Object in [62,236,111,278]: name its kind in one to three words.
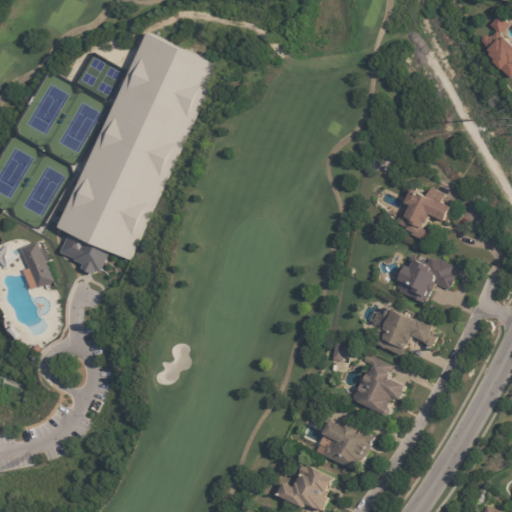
building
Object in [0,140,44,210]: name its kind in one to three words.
tennis court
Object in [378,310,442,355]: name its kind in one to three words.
house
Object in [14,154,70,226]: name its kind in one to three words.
tennis court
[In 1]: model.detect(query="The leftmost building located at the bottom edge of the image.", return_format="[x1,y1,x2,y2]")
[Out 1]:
[275,463,338,512]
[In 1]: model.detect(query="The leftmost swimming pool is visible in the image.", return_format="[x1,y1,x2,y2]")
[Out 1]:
[0,240,63,347]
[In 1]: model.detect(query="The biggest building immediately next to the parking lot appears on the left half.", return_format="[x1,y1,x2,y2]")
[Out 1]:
[61,32,214,258]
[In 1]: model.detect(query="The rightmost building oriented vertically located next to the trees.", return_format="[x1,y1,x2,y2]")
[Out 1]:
[480,18,512,83]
